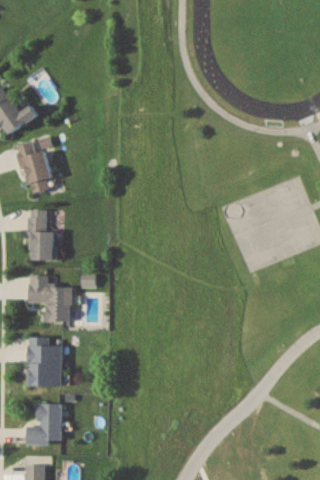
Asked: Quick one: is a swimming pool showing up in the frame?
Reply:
Yes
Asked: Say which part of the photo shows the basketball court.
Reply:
right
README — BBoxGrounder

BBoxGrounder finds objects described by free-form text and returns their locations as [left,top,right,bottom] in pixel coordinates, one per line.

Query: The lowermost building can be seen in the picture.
[26,464,46,480]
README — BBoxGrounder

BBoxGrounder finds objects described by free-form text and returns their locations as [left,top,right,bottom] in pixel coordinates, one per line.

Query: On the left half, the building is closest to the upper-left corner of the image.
[0,92,40,136]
